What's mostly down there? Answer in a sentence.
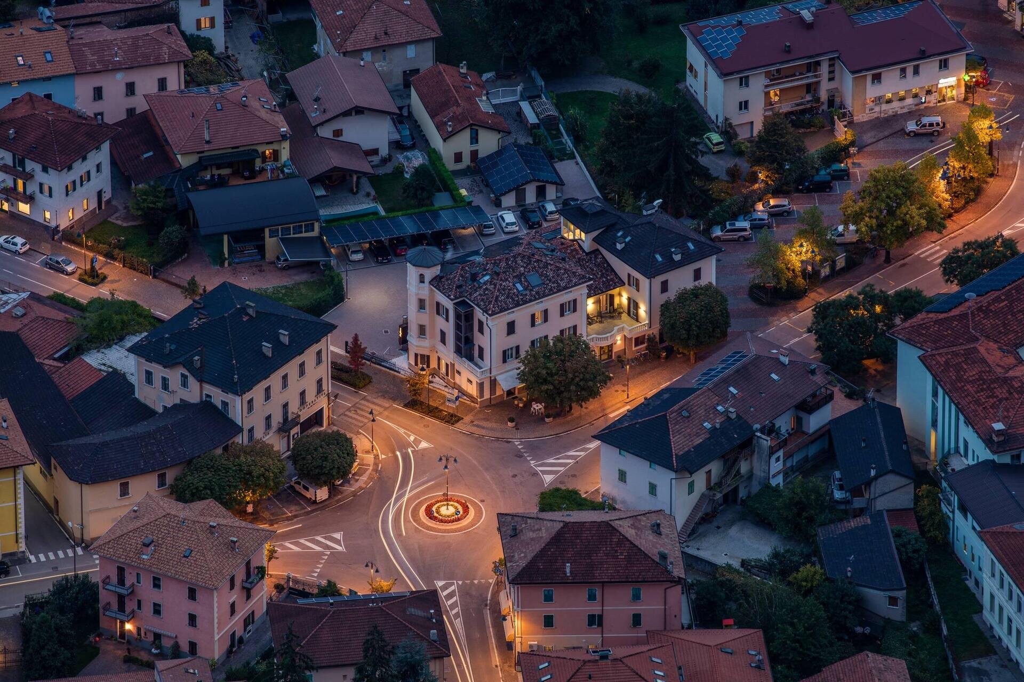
The scene is dominated by buildings.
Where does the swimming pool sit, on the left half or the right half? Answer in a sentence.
The swimming pool is on the left side of the image.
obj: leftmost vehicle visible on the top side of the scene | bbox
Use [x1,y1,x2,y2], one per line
[0,236,32,257]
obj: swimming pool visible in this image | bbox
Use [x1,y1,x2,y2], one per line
[318,204,380,226]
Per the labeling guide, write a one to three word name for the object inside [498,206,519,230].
car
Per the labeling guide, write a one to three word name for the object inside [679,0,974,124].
building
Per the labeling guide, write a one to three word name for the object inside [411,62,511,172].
house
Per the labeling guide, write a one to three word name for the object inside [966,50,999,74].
car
